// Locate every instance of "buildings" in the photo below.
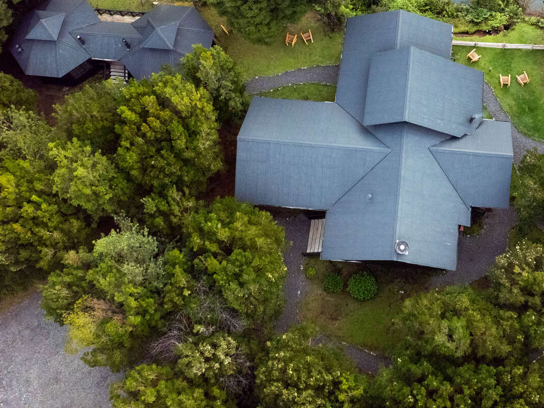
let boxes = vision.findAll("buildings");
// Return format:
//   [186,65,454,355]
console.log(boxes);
[8,0,220,95]
[235,10,513,271]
